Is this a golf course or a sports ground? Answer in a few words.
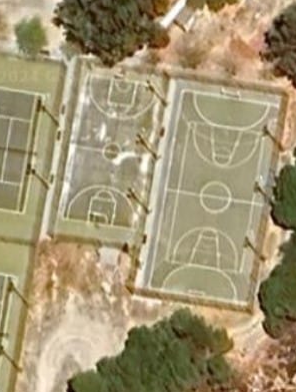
sports ground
